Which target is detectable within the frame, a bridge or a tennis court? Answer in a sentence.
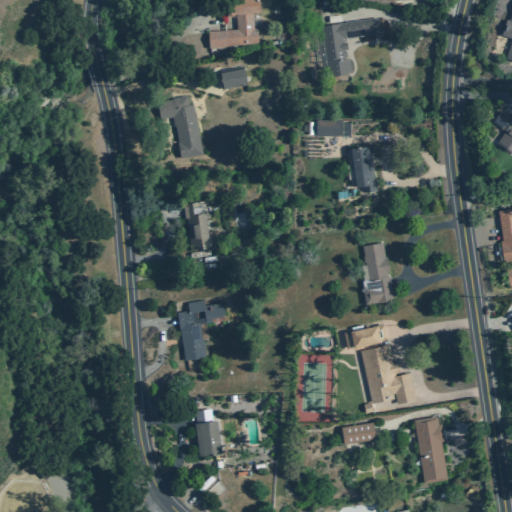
There is a tennis court in the scene.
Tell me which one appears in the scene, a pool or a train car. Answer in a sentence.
Visible in the photo is a pool.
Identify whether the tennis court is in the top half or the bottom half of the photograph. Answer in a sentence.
The tennis court sits in the bottom half of the picture.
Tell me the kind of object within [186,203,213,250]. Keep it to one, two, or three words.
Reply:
house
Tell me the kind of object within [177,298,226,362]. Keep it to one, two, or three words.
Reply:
house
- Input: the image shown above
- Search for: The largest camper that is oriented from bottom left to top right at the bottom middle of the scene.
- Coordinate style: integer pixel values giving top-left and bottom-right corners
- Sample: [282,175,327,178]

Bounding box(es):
[200,476,216,491]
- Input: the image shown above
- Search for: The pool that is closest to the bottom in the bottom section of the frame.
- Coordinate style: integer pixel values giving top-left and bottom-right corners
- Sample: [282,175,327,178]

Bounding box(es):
[242,416,262,448]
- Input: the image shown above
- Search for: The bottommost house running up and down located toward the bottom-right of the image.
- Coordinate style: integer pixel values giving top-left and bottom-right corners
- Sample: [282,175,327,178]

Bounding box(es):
[416,416,448,483]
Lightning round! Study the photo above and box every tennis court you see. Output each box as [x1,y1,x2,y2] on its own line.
[298,354,334,422]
